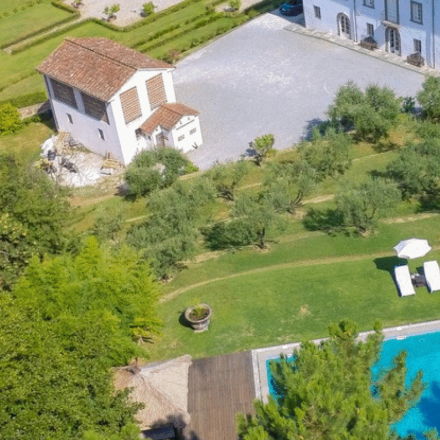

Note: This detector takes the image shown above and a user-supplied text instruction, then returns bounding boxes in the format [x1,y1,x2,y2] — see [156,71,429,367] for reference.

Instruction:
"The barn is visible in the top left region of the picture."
[35,36,204,164]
